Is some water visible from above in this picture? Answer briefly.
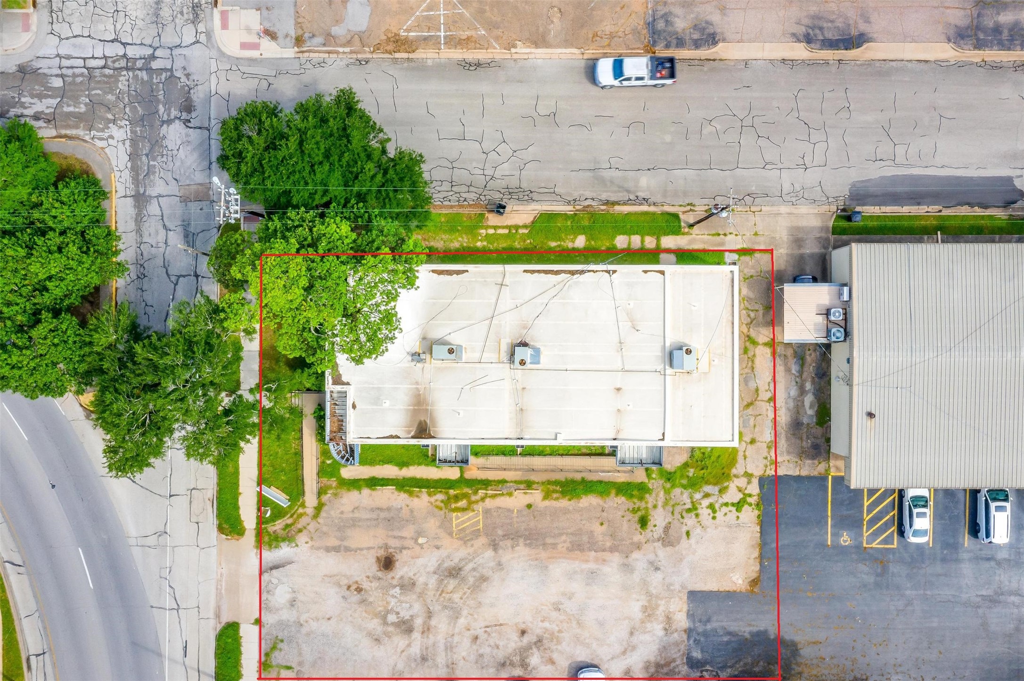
No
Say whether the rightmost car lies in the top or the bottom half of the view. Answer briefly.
bottom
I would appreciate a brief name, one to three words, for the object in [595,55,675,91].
truck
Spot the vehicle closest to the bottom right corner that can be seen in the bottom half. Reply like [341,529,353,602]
[972,490,1009,545]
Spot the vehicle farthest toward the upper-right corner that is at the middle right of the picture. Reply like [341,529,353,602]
[789,268,820,284]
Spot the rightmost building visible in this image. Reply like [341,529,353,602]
[833,235,1024,490]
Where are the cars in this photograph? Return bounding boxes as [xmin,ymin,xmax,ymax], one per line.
[972,490,1009,545]
[900,490,934,543]
[789,268,820,284]
[579,665,605,681]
